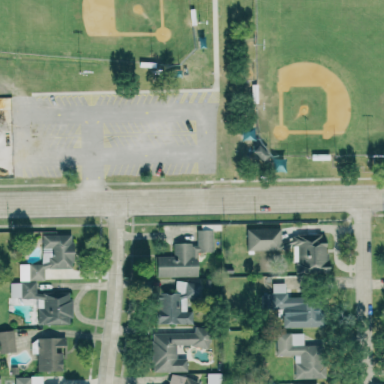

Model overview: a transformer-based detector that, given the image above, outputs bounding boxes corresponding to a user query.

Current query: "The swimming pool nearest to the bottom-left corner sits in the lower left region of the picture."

[8,350,34,376]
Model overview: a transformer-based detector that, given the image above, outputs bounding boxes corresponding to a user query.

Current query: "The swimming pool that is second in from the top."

[9,298,38,325]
